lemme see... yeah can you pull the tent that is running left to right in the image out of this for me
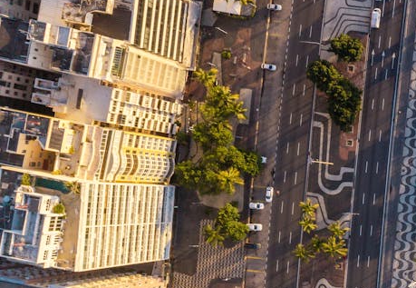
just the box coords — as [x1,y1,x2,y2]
[213,0,244,16]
